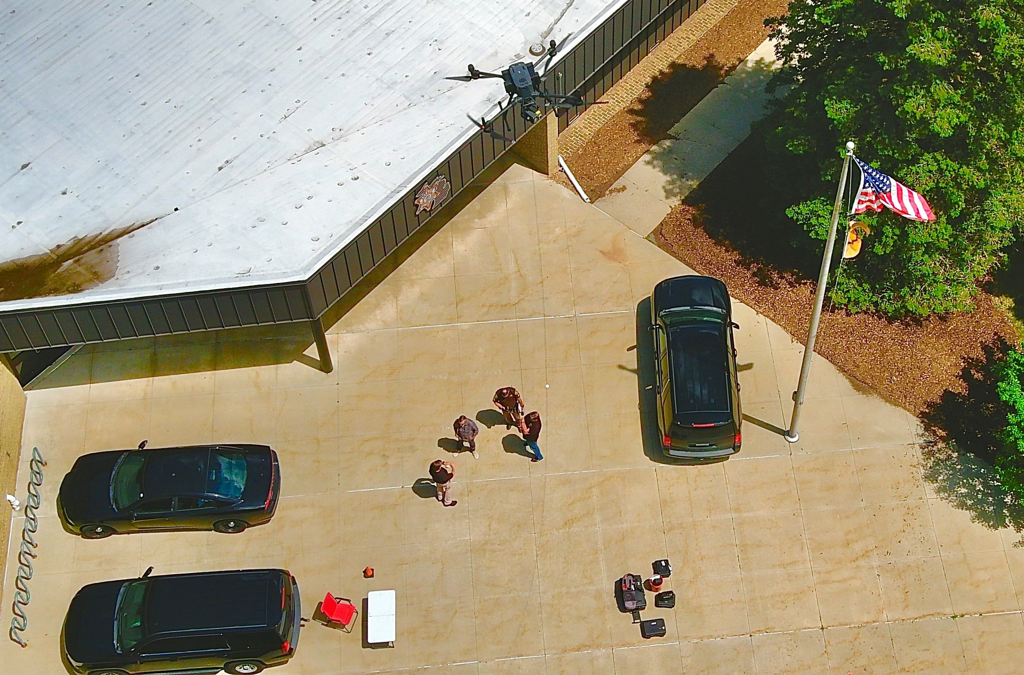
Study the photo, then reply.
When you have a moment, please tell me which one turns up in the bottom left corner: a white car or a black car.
black car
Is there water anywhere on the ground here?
No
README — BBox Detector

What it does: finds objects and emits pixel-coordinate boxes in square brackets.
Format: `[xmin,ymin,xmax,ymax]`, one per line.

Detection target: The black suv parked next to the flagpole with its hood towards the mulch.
[644,272,749,461]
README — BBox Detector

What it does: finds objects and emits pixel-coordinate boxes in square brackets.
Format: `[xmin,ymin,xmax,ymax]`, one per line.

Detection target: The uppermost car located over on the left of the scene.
[58,435,280,538]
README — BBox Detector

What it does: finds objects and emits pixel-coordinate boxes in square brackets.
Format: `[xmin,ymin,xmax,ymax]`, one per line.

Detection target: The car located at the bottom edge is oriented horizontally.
[62,561,318,675]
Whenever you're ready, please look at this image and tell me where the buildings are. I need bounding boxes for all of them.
[0,0,717,615]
